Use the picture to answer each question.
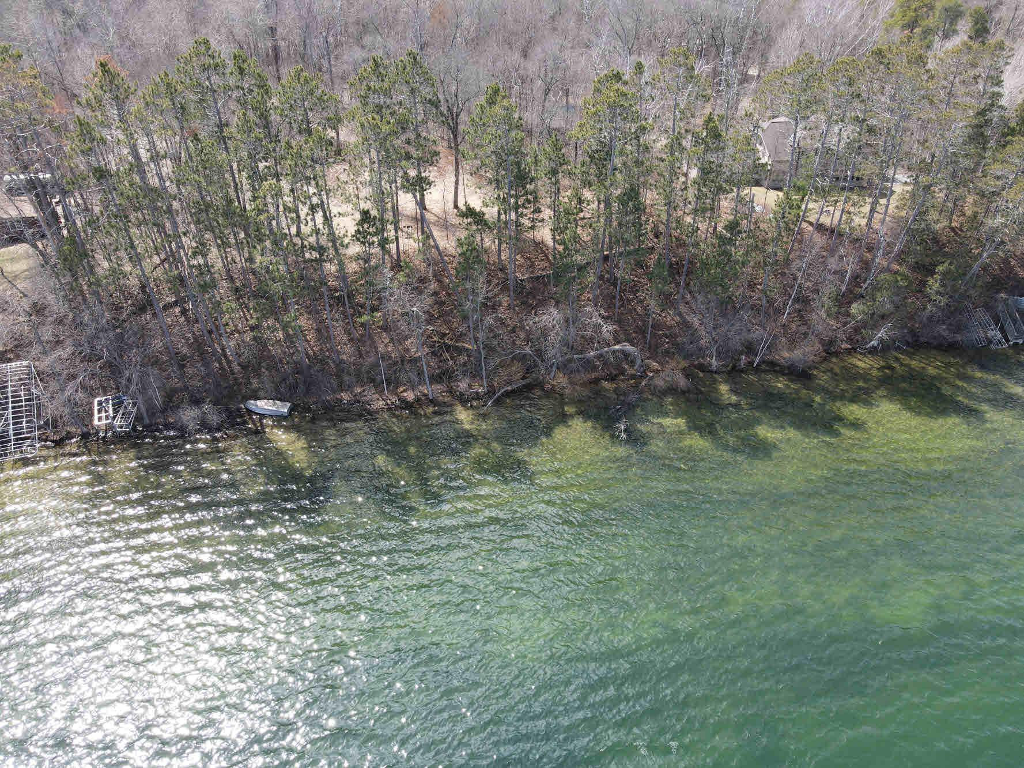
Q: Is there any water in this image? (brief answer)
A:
Yes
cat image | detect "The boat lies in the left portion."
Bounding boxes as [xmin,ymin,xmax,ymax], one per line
[248,399,295,416]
